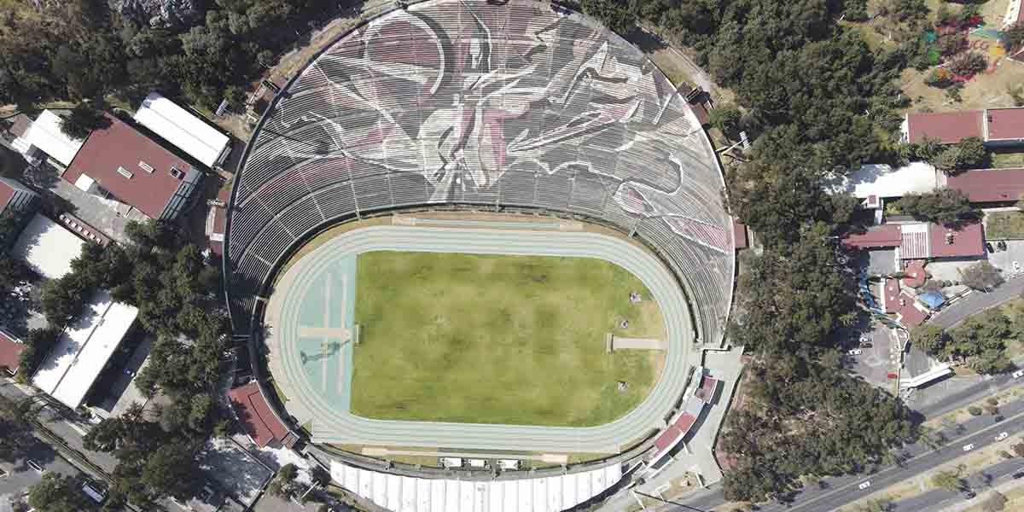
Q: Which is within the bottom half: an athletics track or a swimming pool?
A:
athletics track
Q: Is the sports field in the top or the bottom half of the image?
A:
bottom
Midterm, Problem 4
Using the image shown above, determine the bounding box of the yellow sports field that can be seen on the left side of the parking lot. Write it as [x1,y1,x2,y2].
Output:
[351,253,669,421]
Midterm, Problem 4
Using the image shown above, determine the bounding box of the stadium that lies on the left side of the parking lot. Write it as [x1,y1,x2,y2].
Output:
[220,0,738,512]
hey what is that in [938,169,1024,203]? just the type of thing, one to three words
building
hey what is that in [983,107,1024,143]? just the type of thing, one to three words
building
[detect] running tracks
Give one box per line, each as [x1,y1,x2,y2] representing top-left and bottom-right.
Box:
[266,224,697,450]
